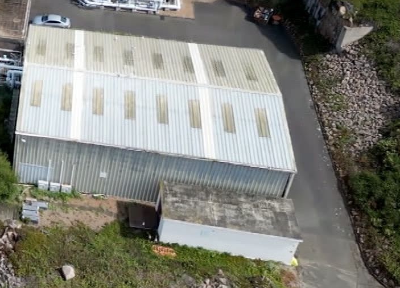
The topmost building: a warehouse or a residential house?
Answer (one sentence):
The topmost building in the image is a warehouse.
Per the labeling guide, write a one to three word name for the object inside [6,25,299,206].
warehouse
